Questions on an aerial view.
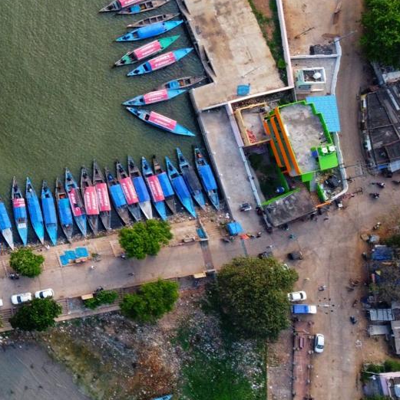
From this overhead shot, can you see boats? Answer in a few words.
Yes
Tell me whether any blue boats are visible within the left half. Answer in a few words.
Yes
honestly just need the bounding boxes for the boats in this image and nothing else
[142,157,166,221]
[105,167,128,225]
[116,0,170,15]
[194,148,220,211]
[127,48,194,76]
[115,19,185,41]
[0,198,14,250]
[121,88,189,105]
[128,156,152,220]
[80,166,99,237]
[116,160,140,220]
[162,77,207,91]
[56,178,73,242]
[93,159,111,232]
[113,36,180,66]
[175,148,206,211]
[11,178,26,248]
[165,156,196,217]
[65,167,87,238]
[25,178,45,245]
[126,14,180,28]
[40,181,57,245]
[126,107,197,136]
[154,156,177,214]
[99,0,144,13]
